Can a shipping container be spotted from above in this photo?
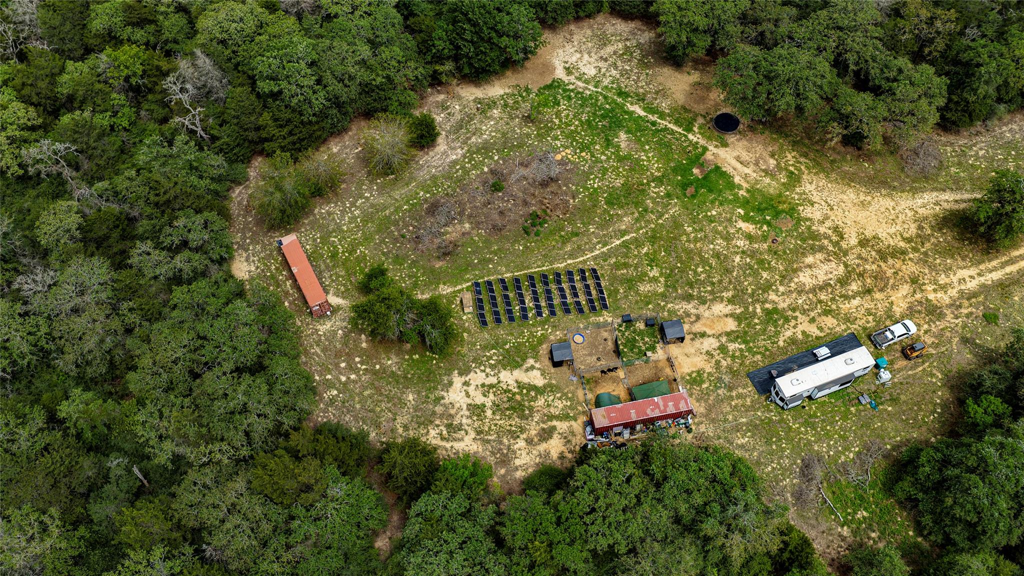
Yes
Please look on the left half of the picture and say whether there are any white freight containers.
No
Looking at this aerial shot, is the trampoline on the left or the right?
right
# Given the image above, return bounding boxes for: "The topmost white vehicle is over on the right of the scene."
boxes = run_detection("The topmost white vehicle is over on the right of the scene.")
[869,323,918,348]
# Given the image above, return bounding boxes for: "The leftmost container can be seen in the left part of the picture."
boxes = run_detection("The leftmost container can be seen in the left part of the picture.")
[279,234,331,318]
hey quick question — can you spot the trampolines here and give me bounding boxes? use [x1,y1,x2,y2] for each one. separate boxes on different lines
[711,113,740,135]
